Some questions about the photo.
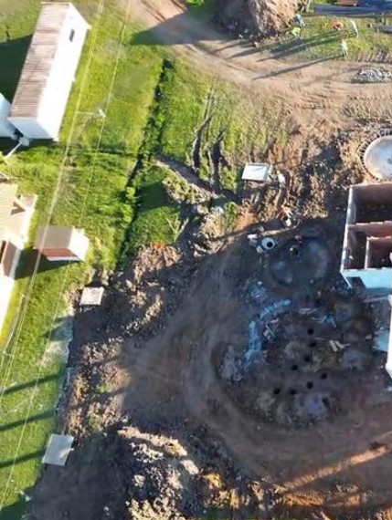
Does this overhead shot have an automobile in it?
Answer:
No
